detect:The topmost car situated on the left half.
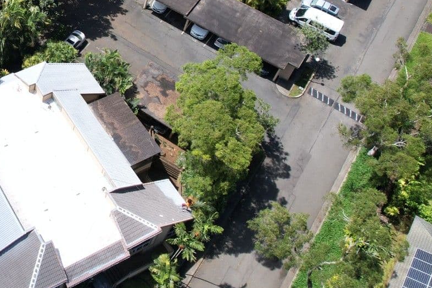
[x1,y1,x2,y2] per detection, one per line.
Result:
[149,1,169,18]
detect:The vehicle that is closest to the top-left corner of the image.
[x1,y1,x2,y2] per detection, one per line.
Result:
[62,23,93,56]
